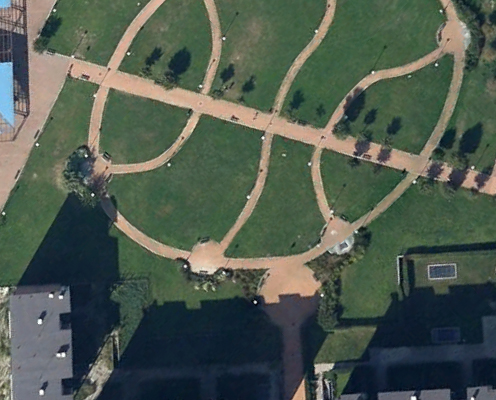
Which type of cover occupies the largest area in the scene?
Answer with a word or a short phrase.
grass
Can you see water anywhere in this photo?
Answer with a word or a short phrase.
No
